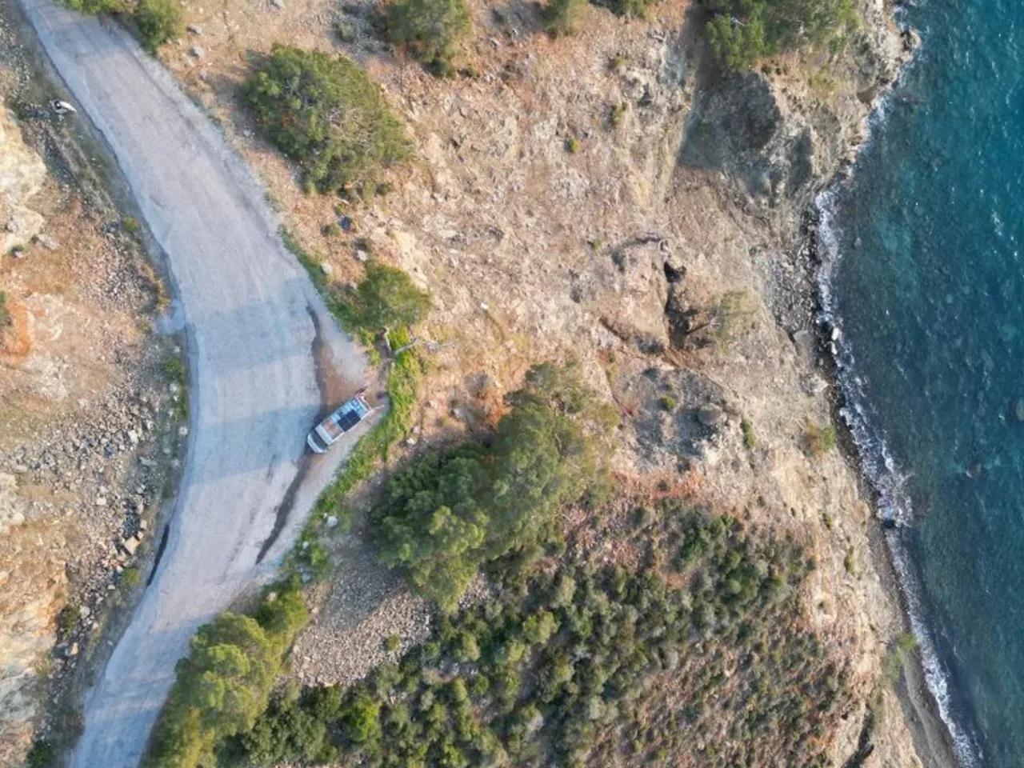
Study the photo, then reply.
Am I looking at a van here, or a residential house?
van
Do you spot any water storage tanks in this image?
No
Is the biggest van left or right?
left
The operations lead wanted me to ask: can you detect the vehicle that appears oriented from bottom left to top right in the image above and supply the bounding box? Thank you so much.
[312,387,386,452]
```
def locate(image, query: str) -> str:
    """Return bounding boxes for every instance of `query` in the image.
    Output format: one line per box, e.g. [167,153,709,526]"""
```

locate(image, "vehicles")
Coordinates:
[312,387,386,452]
[48,95,72,113]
